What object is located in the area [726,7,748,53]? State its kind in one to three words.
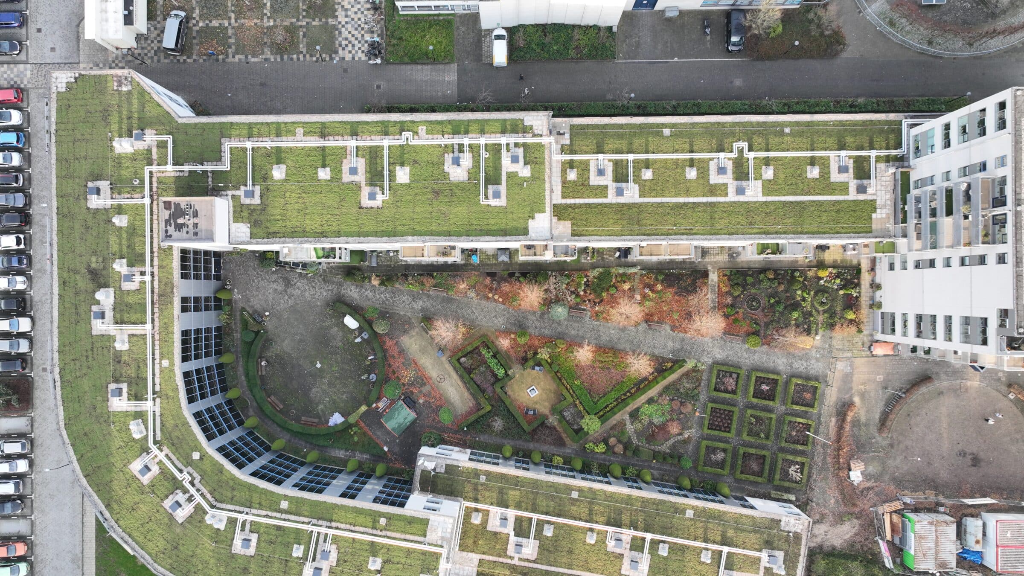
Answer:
vehicle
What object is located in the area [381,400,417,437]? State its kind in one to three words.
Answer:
shed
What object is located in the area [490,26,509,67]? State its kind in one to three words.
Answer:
vehicle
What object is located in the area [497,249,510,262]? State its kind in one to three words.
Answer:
gazebo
